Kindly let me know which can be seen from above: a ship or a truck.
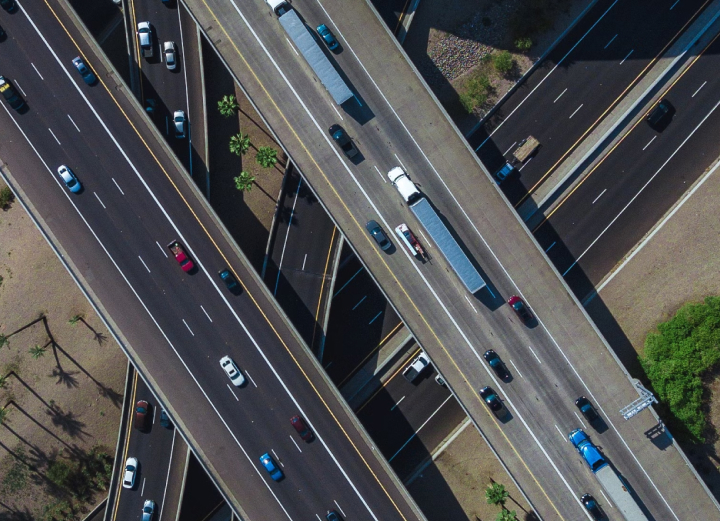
truck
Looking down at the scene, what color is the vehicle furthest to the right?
black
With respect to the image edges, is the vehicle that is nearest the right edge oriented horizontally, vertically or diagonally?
diagonally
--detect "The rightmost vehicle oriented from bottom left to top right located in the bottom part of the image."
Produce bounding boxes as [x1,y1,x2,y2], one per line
[401,352,429,381]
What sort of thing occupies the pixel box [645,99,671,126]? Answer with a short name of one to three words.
vehicle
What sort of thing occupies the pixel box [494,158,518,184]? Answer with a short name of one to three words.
vehicle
